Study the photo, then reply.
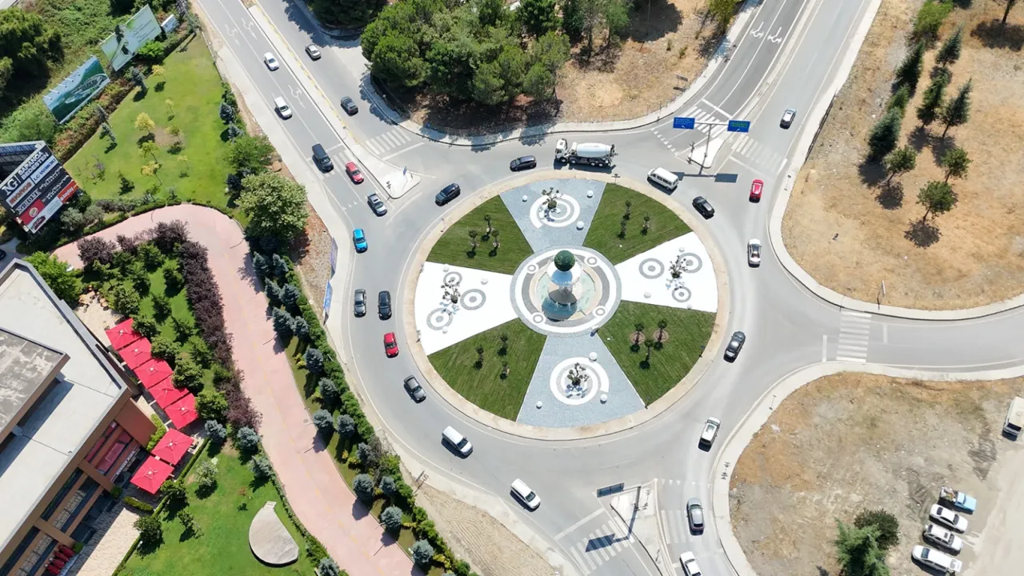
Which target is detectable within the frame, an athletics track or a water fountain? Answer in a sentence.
This aerial view contains a water fountain.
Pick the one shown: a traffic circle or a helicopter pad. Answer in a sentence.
Looking from above, you can make out a traffic circle.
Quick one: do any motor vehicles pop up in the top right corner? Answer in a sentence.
Yes, a motor vehicle appears in the top right corner.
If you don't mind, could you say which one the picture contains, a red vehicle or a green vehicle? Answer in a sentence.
This aerial view contains a red vehicle.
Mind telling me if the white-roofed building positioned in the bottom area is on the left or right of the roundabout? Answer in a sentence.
You can see the white-roofed building positioned in the bottom area positioned to the left of the roundabout.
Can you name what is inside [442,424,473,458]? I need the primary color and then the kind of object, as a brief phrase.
white vehicle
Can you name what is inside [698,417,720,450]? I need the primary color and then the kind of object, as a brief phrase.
white car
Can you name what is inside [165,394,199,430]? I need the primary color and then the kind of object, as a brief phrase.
red umbrella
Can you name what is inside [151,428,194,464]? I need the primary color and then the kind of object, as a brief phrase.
red umbrella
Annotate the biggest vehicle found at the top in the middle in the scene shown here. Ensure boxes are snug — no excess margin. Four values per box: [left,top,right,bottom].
[557,139,619,169]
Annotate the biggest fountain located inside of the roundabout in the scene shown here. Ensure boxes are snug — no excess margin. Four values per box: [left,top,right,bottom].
[530,249,602,318]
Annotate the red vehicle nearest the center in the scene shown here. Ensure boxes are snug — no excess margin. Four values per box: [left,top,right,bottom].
[382,330,399,358]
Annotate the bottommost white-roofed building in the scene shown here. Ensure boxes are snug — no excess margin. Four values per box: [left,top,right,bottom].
[0,259,155,576]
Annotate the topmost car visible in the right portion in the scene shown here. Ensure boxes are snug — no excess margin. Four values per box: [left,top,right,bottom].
[779,108,796,130]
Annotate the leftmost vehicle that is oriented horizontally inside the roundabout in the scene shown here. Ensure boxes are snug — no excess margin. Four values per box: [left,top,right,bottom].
[509,156,537,172]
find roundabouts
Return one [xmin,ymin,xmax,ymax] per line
[347,134,791,501]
